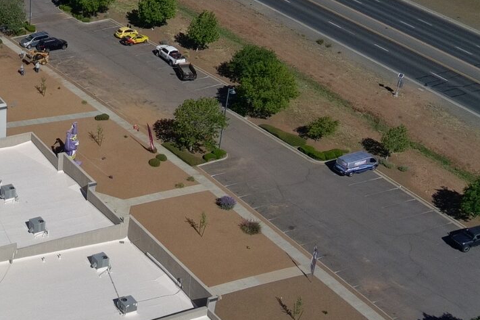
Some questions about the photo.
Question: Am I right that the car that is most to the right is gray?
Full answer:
No, from above the car that is most to the right looks black.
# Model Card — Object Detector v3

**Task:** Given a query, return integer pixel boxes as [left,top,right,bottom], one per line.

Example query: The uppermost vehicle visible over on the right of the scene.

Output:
[333,152,379,177]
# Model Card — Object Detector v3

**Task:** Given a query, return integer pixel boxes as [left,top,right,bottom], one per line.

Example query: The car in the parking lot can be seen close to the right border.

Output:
[446,222,480,252]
